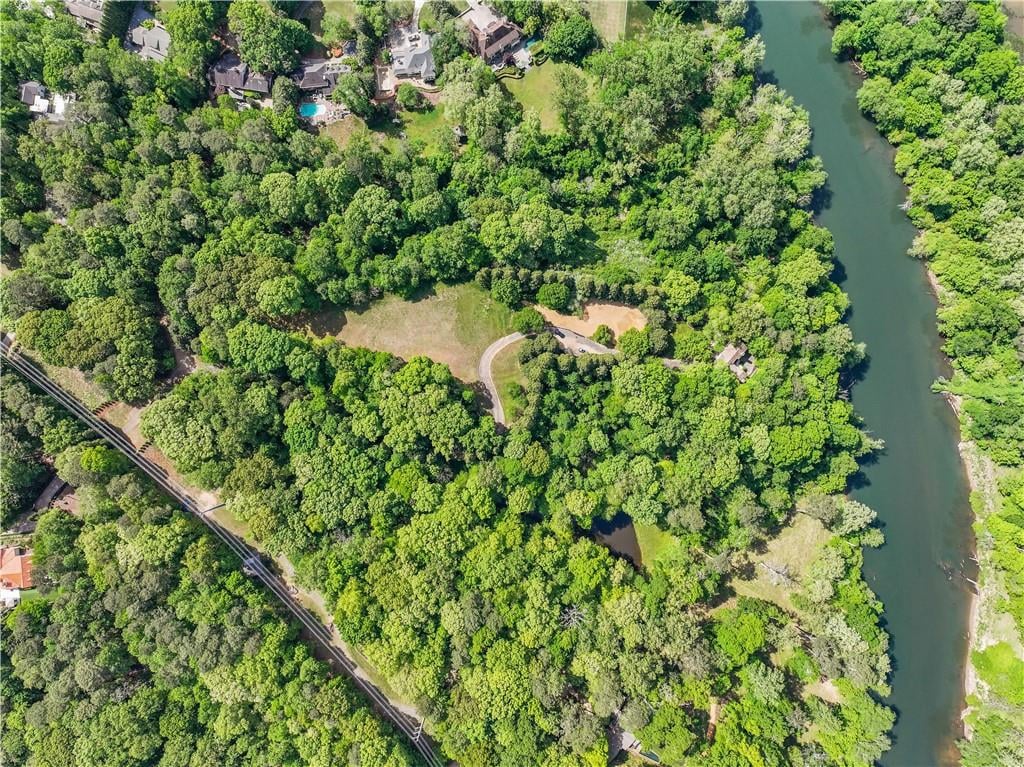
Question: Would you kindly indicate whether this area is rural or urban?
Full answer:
This place is rural.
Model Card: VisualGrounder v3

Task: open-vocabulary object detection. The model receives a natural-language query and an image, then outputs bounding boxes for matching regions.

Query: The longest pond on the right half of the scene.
[596,509,643,576]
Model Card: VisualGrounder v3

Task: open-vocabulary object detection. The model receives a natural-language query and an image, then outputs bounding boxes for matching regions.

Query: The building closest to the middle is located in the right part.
[716,341,755,382]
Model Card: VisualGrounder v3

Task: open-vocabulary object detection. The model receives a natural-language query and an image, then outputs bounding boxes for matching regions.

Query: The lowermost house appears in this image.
[618,728,642,751]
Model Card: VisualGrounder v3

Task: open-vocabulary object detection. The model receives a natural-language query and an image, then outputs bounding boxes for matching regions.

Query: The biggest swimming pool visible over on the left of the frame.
[298,102,326,118]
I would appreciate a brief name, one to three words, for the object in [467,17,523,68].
house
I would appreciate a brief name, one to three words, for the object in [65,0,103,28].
house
